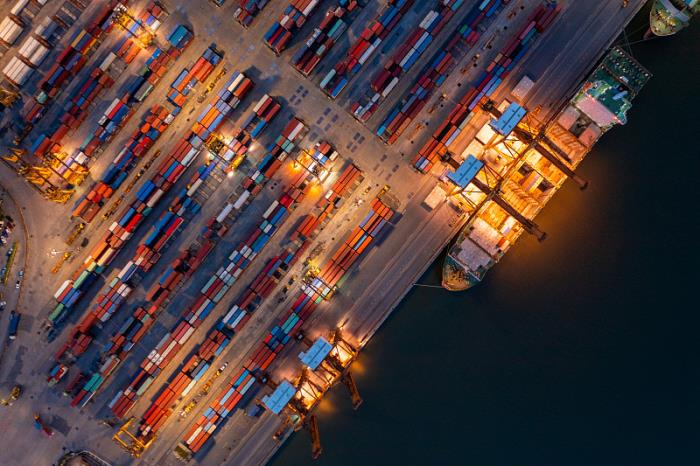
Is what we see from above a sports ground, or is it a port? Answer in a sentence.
This looks like a port.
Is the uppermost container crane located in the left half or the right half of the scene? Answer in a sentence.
The uppermost container crane sits on the left side.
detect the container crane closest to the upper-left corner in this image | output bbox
[0,84,47,122]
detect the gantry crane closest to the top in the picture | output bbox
[112,4,163,52]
